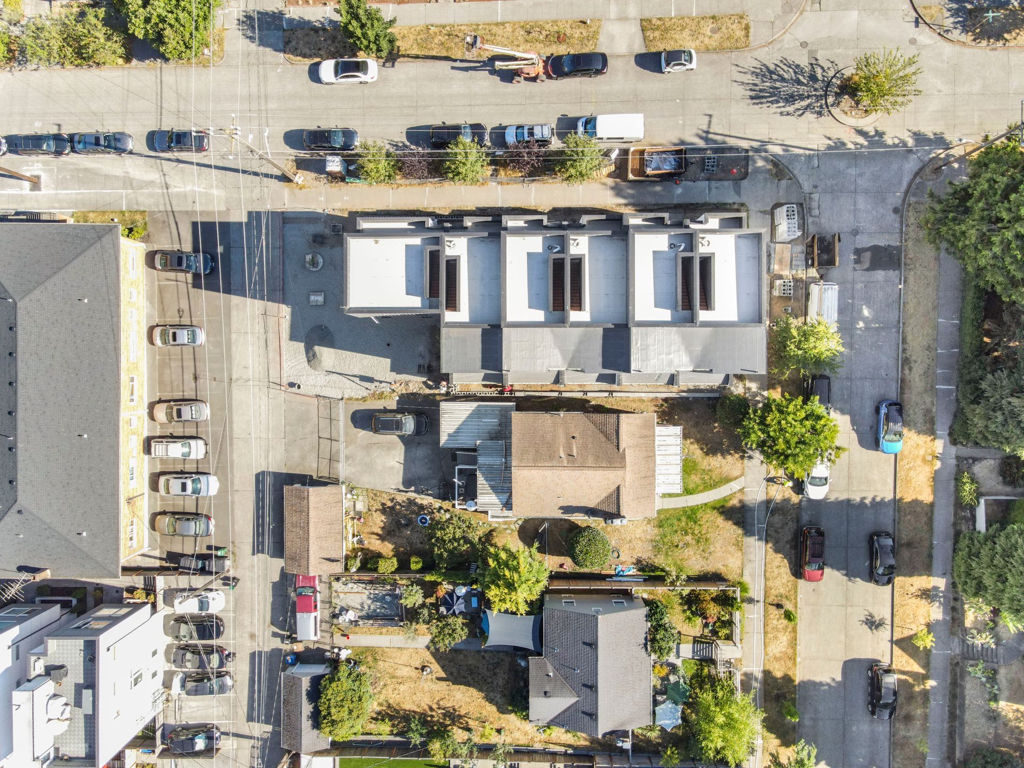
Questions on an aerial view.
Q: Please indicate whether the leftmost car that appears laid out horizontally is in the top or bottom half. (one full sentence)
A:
The leftmost car that appears laid out horizontally is in the top half of the image.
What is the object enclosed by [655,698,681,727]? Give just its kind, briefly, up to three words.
umbrella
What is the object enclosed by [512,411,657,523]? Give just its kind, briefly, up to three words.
house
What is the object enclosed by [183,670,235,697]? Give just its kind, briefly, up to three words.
car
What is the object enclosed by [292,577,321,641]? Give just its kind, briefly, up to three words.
truck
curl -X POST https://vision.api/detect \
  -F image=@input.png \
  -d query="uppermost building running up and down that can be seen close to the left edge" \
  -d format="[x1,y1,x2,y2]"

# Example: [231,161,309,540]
[0,223,148,580]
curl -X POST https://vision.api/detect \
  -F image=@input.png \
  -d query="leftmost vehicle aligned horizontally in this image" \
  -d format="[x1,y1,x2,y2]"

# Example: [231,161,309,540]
[7,129,74,159]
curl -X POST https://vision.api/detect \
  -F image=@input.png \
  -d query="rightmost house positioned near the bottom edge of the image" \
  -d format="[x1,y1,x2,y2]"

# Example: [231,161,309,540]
[529,595,652,737]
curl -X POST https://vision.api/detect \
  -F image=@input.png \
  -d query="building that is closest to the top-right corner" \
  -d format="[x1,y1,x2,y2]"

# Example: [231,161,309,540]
[618,213,768,385]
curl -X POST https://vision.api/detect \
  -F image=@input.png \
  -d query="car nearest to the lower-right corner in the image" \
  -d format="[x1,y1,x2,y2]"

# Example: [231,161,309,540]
[867,661,899,719]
